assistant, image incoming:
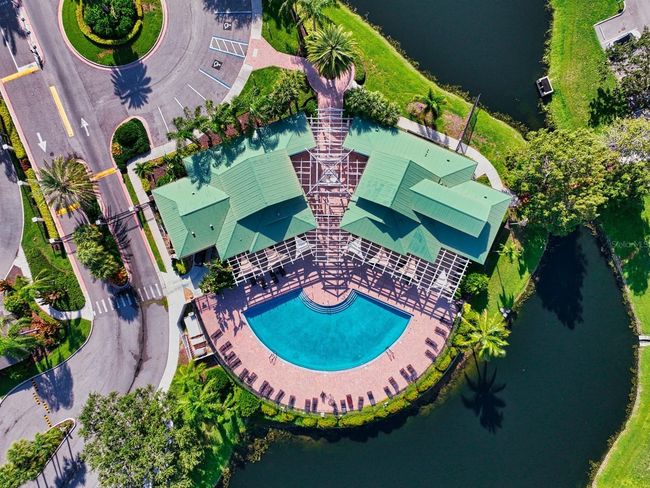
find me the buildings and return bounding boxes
[152,112,318,260]
[340,113,514,264]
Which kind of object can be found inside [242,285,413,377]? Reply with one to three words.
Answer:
swimming pool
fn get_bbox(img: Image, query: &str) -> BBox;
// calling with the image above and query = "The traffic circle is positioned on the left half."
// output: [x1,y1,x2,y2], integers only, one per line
[57,0,166,71]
